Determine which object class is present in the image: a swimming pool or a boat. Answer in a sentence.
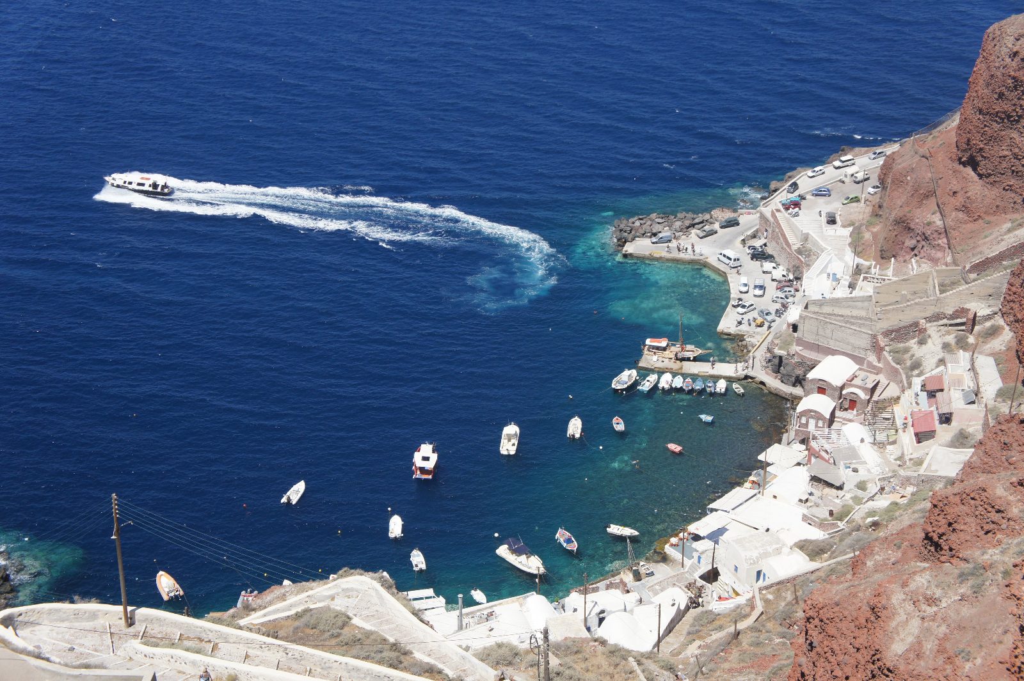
The image shows a boat.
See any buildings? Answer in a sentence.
Yes, the image includes a building.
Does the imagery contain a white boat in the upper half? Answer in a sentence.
Yes, the scene does show a white boat in the upper half.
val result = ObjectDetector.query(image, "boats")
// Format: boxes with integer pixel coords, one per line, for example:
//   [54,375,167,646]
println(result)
[715,378,727,396]
[237,587,258,606]
[557,525,576,554]
[645,299,711,362]
[683,377,693,393]
[636,373,656,395]
[604,522,638,537]
[568,416,583,442]
[281,480,305,505]
[658,372,672,393]
[699,414,716,425]
[389,515,402,541]
[469,585,486,604]
[104,169,177,204]
[156,571,184,602]
[693,377,703,394]
[671,374,683,392]
[410,548,426,574]
[492,535,544,574]
[611,365,636,393]
[734,383,744,395]
[499,423,518,459]
[705,379,714,396]
[614,416,624,435]
[666,445,684,455]
[412,439,437,484]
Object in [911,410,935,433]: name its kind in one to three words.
shed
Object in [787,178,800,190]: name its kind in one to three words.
vehicle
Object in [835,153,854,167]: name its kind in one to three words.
car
